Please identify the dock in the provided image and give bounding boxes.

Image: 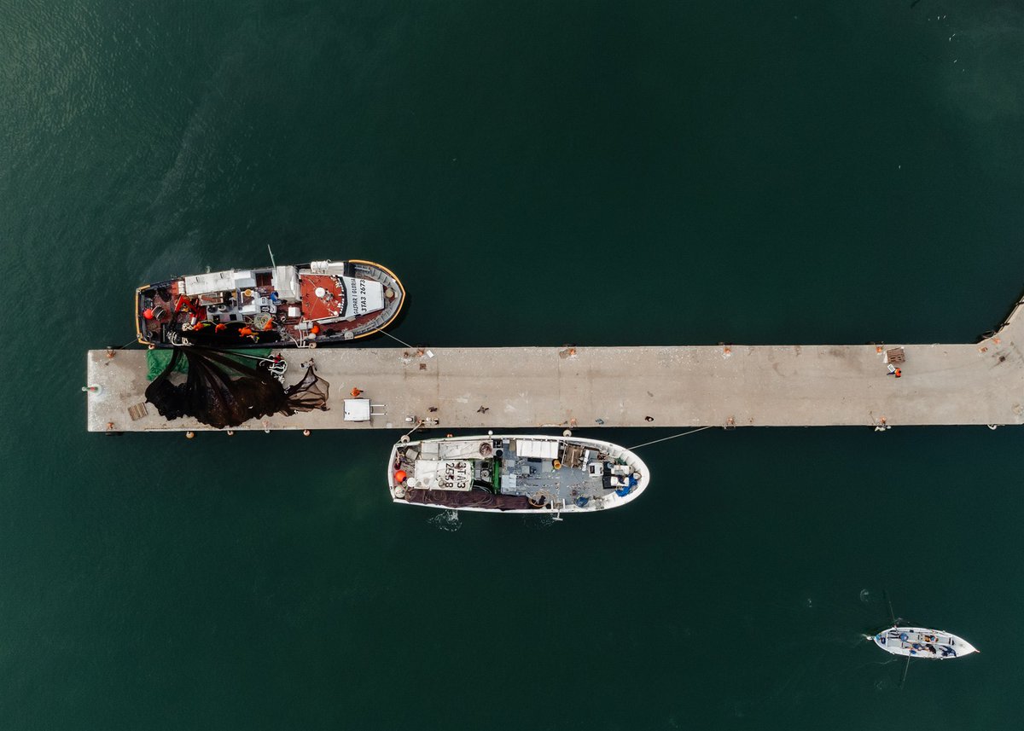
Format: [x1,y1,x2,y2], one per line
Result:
[89,289,1024,431]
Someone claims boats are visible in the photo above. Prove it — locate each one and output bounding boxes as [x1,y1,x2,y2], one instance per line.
[388,430,650,520]
[868,626,981,660]
[135,245,407,348]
